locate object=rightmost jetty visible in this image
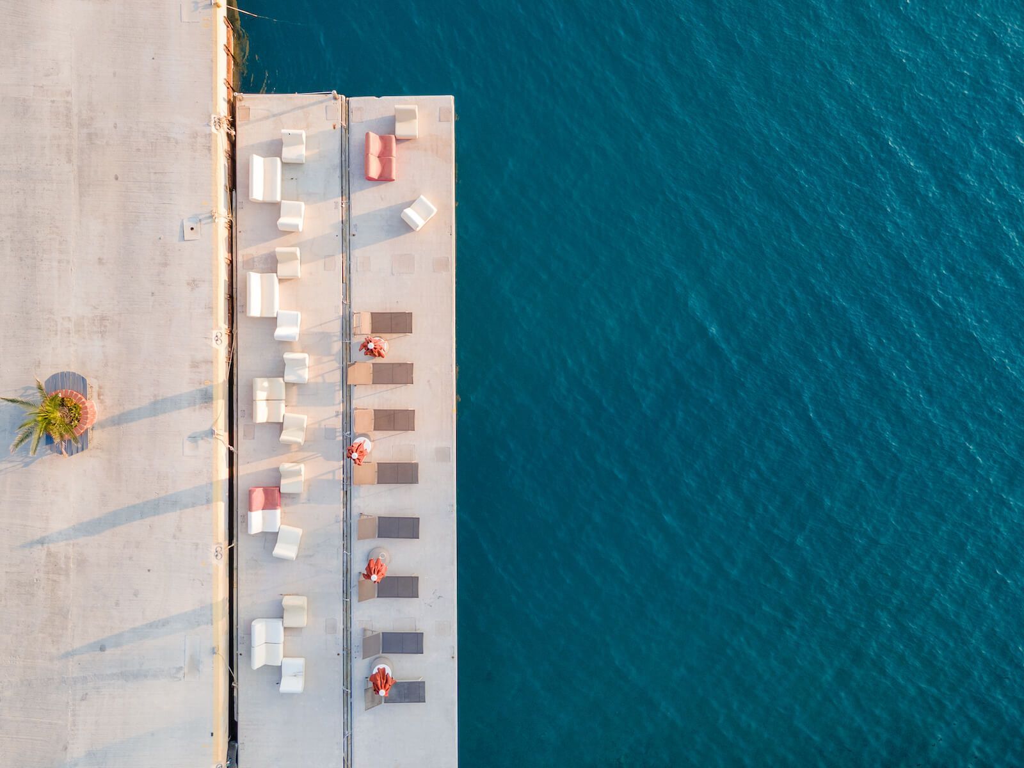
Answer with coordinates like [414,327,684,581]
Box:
[350,96,458,768]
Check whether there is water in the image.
Yes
